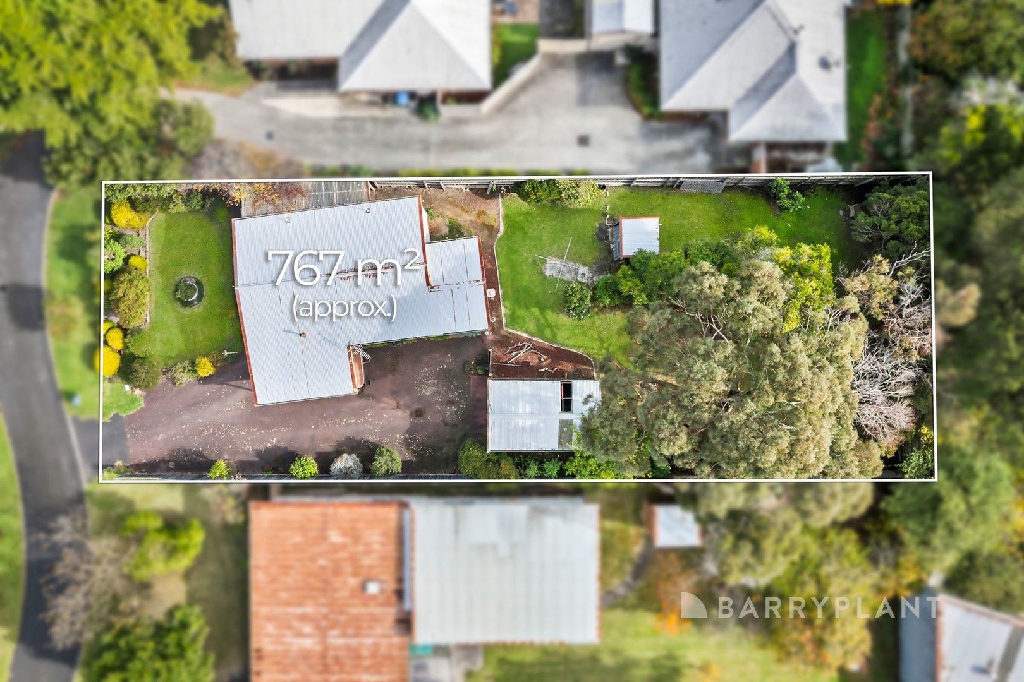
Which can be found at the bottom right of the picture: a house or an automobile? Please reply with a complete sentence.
What appears at the bottom right of the picture is a house.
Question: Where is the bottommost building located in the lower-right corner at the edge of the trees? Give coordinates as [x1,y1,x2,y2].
[901,585,1024,682]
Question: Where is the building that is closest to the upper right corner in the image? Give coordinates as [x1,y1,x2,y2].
[655,0,857,145]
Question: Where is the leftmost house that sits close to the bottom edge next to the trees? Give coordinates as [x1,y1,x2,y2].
[247,500,412,682]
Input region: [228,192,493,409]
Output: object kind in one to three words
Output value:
house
